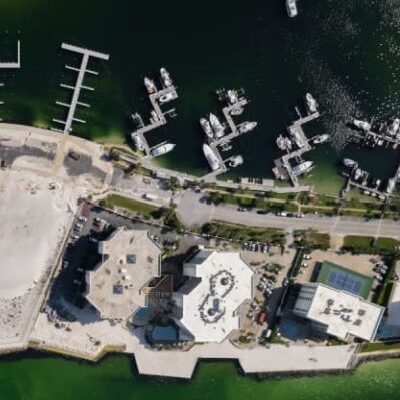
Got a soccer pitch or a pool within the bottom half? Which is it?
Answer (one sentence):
You can see a pool within the bottom half.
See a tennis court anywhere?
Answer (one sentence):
Yes, the frame does contain a tennis court.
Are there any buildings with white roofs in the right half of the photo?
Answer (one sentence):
Yes, a building with a white roof shows up in the right half of the photo.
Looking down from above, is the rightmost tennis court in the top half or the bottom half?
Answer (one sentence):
The rightmost tennis court sits in the bottom half of the picture.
